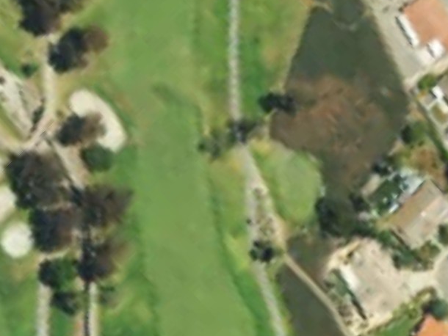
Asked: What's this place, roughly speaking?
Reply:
golf course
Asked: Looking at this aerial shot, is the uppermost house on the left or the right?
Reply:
right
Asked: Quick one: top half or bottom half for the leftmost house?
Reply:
bottom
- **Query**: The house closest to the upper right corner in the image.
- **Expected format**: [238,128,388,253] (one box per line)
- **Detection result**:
[400,0,448,61]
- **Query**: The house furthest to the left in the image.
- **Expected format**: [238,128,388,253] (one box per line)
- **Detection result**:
[338,239,409,313]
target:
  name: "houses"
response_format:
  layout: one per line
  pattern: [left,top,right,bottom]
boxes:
[372,179,448,250]
[338,239,409,313]
[411,314,448,336]
[400,0,448,61]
